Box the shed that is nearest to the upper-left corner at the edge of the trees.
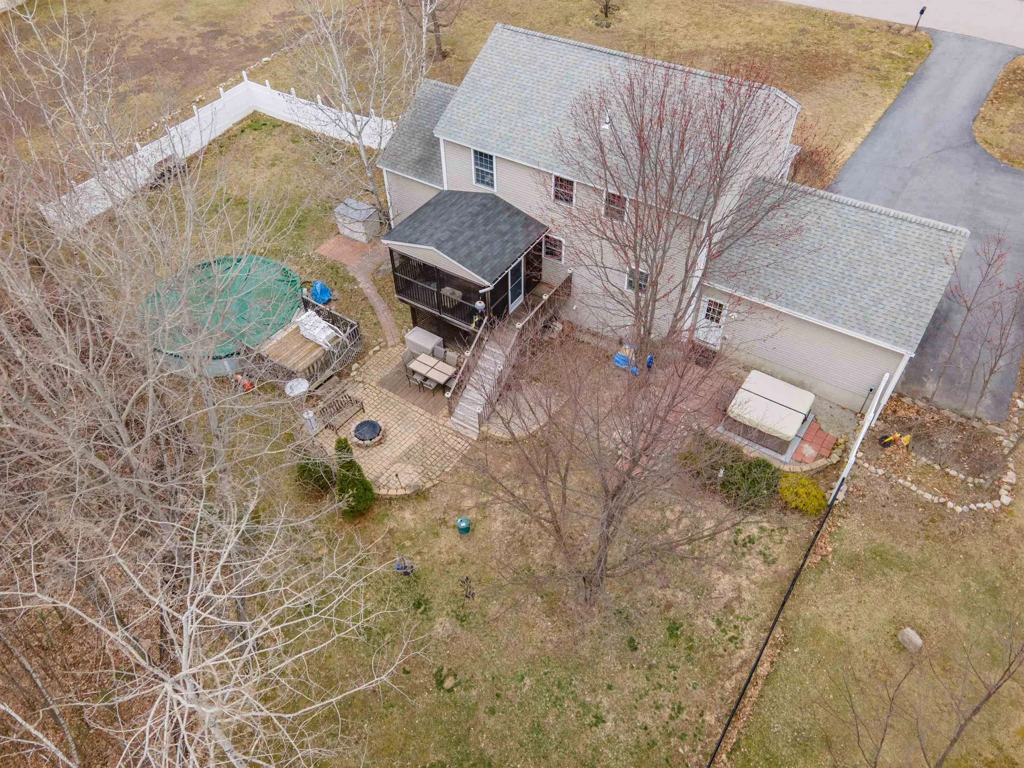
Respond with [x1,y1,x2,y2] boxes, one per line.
[329,198,384,250]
